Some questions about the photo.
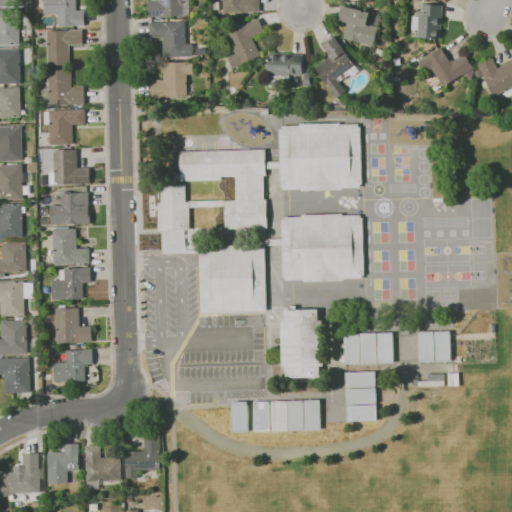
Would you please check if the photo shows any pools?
Yes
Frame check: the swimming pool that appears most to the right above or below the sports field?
above it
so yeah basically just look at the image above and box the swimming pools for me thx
[343,70,370,96]
[40,16,57,29]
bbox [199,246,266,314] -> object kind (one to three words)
building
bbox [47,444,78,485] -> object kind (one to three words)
house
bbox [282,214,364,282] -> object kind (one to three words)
building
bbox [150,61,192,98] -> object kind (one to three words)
house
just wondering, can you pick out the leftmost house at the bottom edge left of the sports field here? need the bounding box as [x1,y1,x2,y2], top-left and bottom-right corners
[5,454,39,494]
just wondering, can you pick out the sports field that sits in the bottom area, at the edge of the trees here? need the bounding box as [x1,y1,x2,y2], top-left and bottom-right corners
[176,108,512,512]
